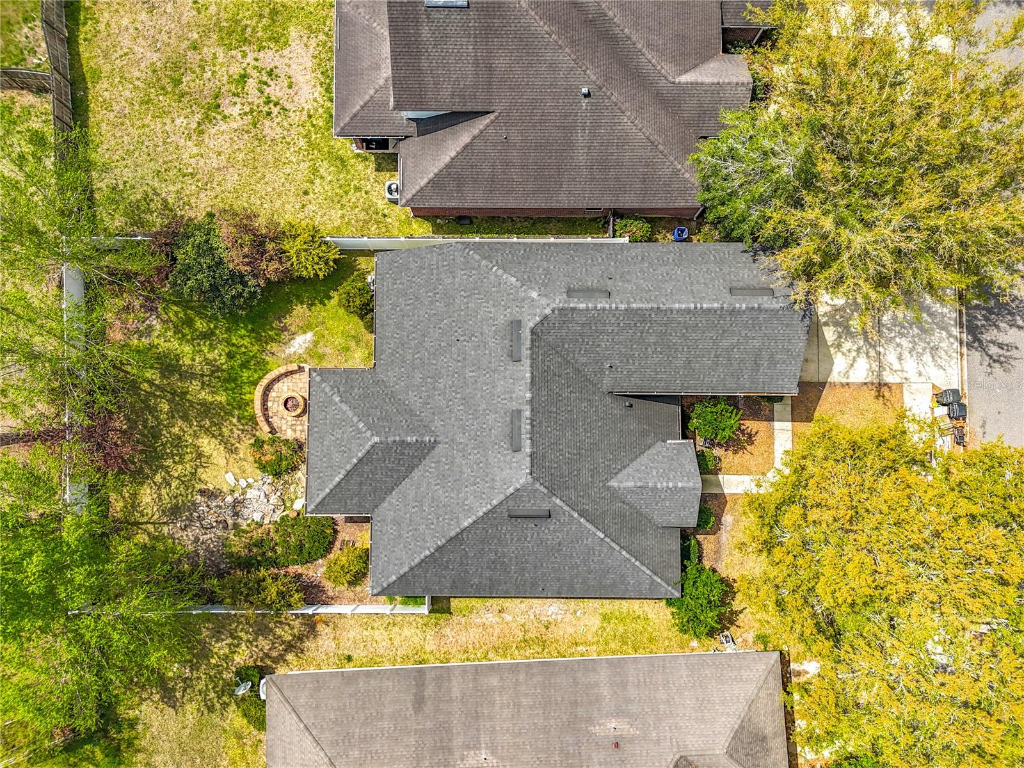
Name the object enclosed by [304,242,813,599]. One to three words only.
house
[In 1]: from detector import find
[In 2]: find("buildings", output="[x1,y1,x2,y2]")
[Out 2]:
[304,242,813,599]
[264,646,787,768]
[331,0,787,220]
